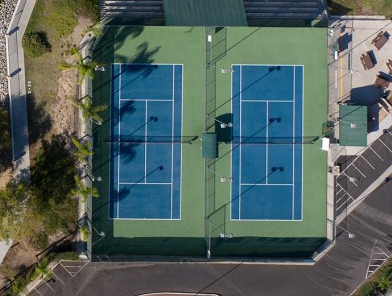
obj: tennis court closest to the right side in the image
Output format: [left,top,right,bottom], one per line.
[206,26,326,256]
